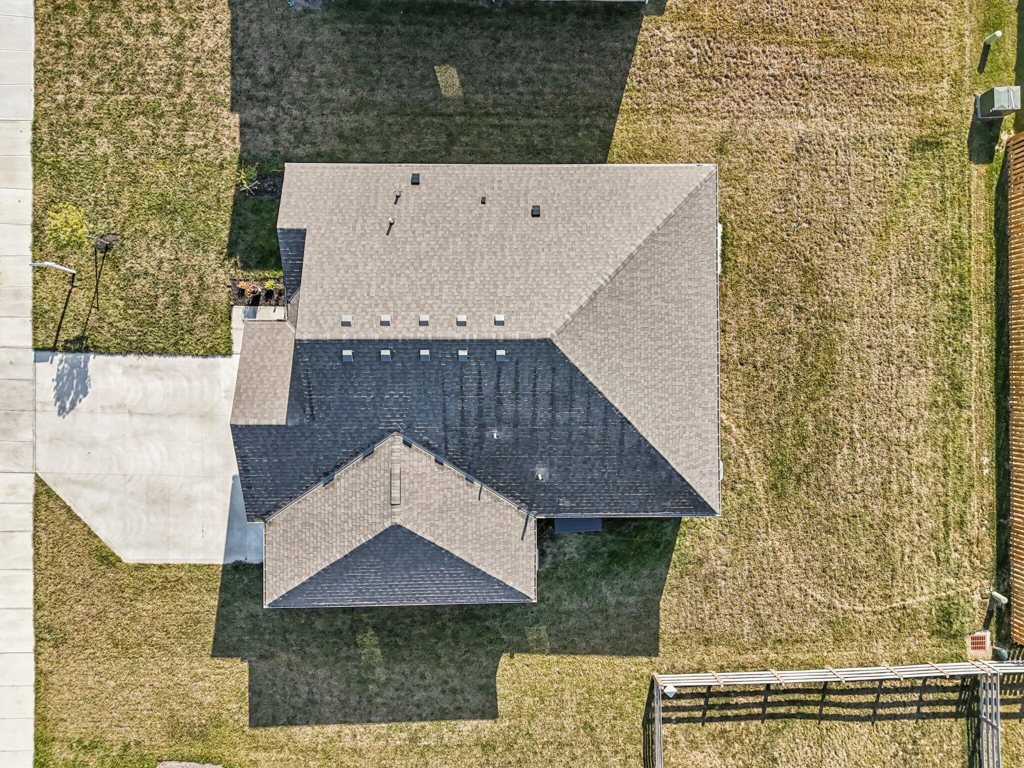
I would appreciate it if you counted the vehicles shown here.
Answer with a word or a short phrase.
0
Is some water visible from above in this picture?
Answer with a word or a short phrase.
No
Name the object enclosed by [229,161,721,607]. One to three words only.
house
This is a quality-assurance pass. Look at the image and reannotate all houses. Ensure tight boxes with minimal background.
[229,161,721,607]
[492,0,651,10]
